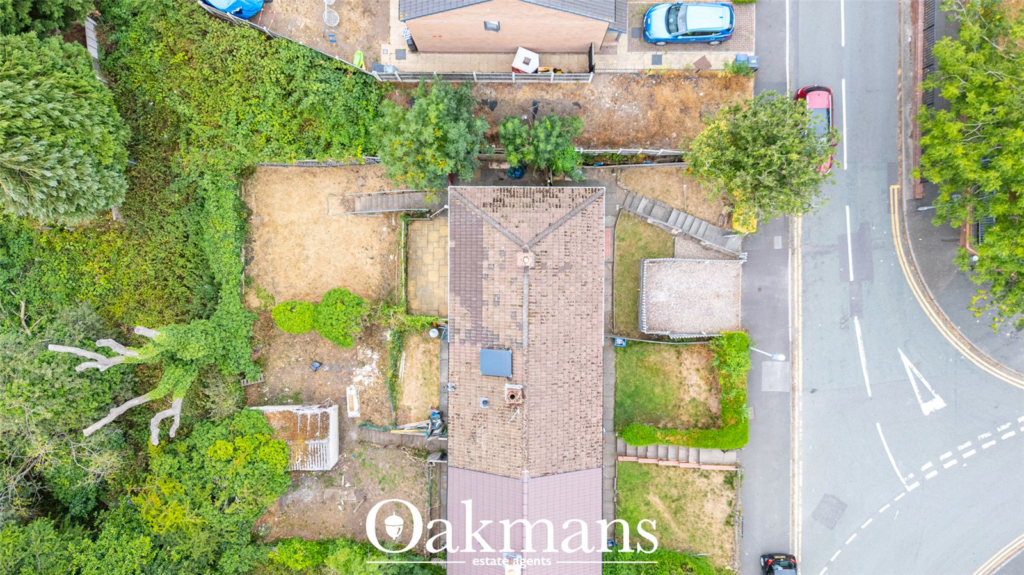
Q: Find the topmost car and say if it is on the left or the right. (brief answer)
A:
right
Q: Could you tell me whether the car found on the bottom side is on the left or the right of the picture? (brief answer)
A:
right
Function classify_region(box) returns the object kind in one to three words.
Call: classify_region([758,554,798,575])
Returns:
car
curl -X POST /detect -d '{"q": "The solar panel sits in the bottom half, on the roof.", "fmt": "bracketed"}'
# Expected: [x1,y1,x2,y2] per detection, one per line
[481,346,513,381]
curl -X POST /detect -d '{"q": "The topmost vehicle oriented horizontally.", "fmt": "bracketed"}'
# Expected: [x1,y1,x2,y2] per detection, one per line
[641,0,735,46]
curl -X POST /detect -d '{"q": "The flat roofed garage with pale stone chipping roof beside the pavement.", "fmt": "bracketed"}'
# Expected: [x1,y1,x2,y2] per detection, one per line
[640,258,746,341]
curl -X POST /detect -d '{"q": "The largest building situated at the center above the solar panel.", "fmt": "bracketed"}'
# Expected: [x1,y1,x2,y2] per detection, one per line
[446,185,606,350]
